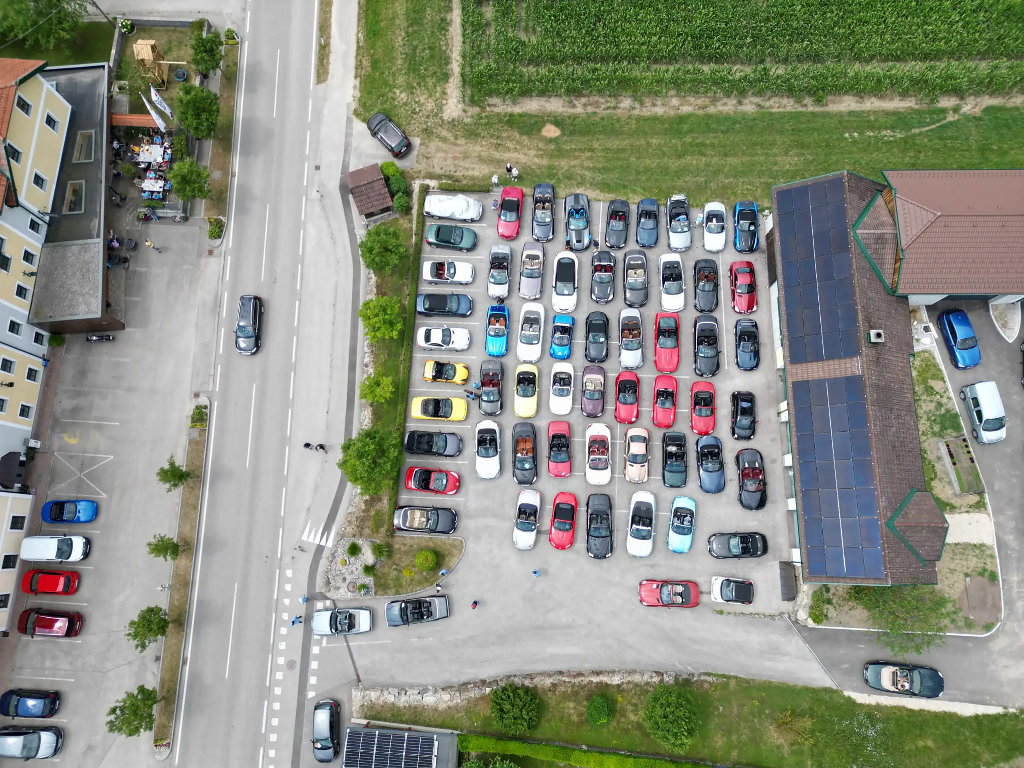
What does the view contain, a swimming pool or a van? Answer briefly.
van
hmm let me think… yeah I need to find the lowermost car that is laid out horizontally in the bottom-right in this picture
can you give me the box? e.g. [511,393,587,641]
[863,661,944,701]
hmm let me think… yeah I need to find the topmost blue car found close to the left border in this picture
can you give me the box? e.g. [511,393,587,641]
[40,496,100,526]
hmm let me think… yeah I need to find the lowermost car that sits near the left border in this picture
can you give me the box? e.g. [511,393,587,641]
[0,726,65,765]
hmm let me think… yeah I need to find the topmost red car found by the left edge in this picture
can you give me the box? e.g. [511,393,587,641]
[21,570,81,602]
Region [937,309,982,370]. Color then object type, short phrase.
blue car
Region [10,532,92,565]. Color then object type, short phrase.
white van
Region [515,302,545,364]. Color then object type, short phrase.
white car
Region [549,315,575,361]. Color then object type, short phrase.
blue car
